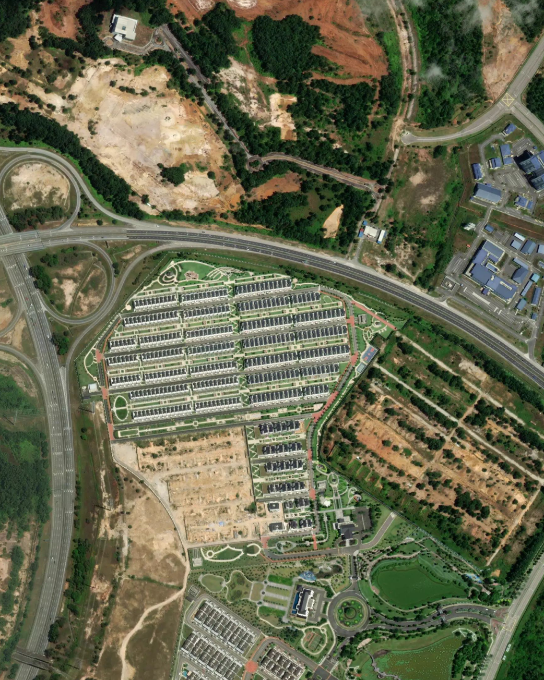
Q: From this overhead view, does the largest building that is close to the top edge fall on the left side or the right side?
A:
left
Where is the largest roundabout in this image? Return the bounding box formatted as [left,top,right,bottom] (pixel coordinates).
[328,591,372,635]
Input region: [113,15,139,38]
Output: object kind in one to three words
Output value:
building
